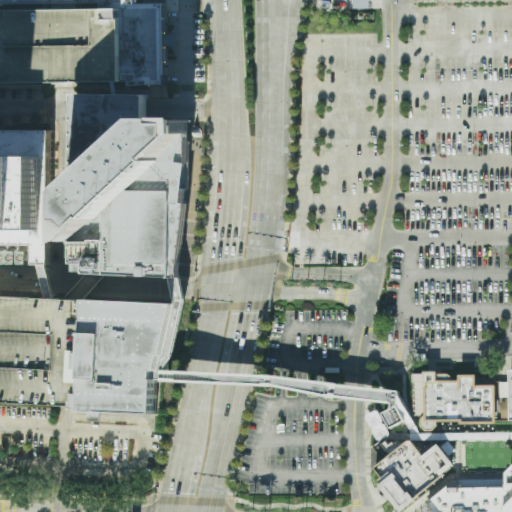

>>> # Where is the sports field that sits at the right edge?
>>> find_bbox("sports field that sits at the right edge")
[465,441,512,469]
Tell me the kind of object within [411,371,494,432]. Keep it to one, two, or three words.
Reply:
building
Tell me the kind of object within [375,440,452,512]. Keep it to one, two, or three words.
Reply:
building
